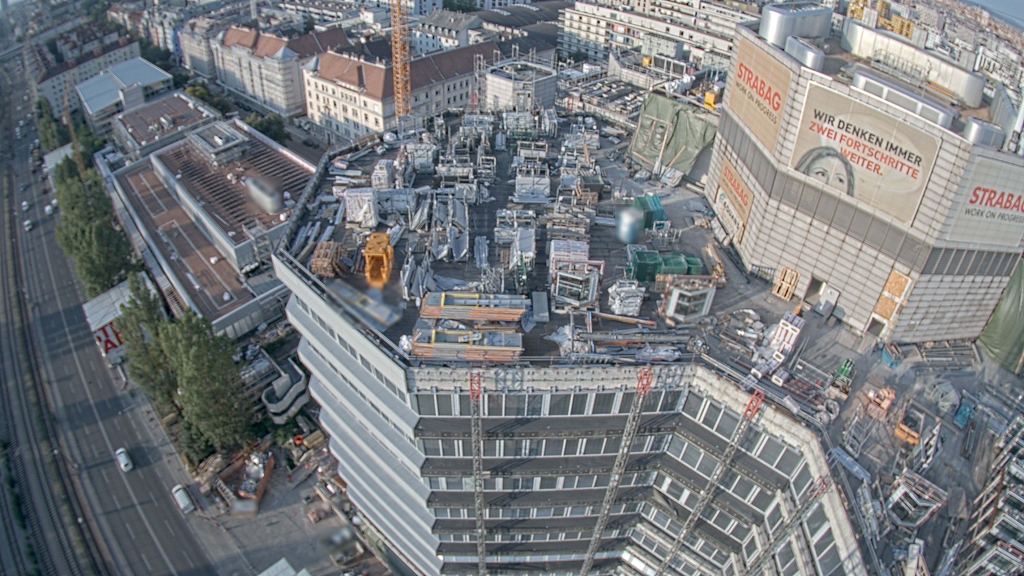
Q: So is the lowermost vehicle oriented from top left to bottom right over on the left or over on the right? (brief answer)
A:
left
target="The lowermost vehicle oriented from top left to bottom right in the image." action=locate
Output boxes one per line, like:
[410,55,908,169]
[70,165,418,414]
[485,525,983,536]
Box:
[172,485,199,518]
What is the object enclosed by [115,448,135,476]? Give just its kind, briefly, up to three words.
car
